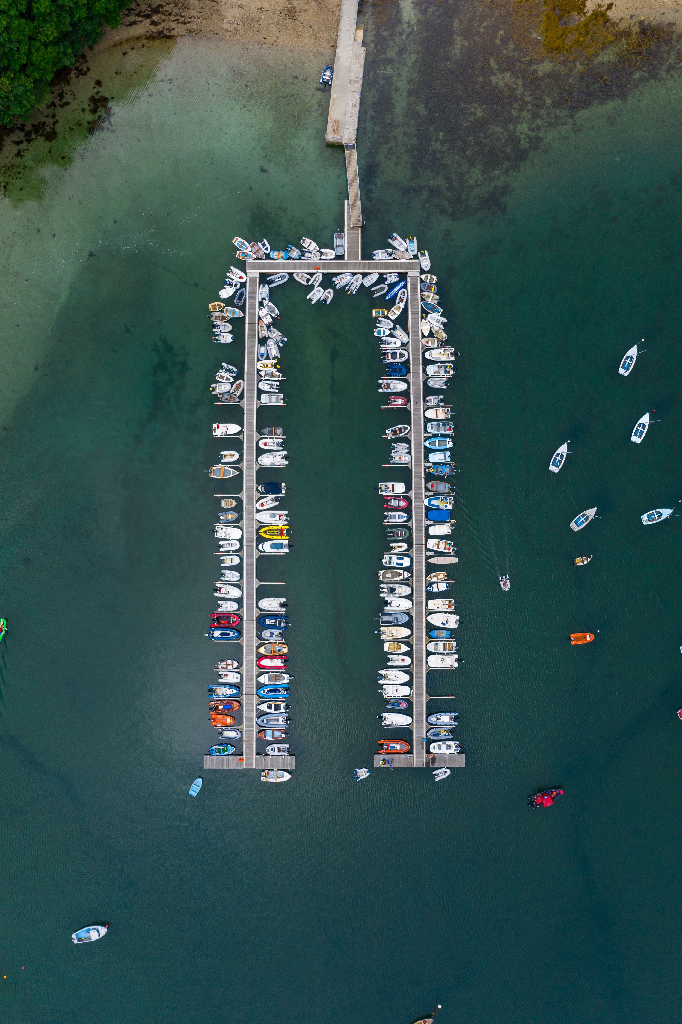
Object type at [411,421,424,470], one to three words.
pier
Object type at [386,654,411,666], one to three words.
boat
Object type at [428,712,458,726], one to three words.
boat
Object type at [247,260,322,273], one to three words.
pier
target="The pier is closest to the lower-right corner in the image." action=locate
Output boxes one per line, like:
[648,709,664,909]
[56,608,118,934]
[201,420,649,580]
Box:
[426,753,465,767]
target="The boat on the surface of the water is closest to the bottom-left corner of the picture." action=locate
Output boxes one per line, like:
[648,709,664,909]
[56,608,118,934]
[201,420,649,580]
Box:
[69,927,107,944]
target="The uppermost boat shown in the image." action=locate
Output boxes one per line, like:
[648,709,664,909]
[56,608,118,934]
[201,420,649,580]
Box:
[320,64,333,86]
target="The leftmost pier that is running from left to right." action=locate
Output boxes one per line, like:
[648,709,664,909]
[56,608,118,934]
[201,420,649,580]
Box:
[204,755,243,769]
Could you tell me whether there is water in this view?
Yes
